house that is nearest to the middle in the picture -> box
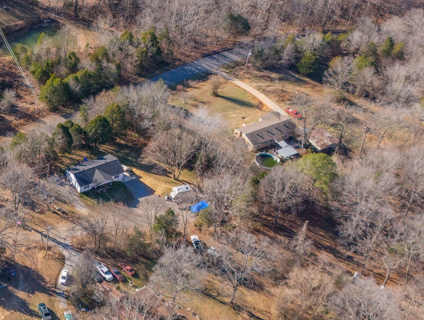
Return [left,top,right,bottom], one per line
[233,106,305,159]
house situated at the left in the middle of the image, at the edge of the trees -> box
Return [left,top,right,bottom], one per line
[67,155,125,195]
